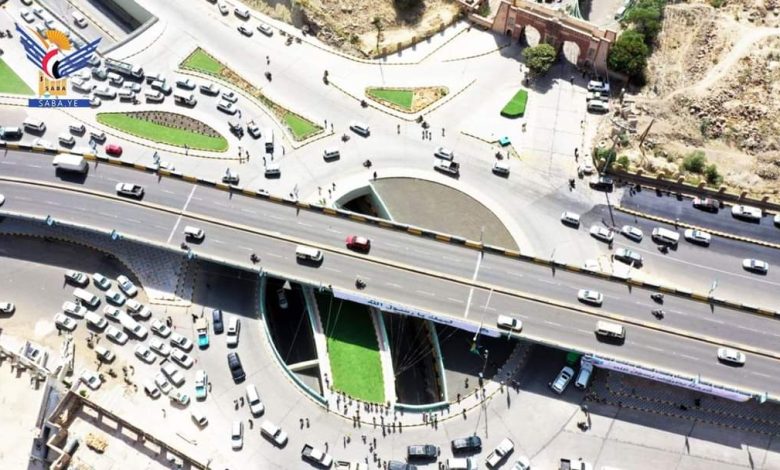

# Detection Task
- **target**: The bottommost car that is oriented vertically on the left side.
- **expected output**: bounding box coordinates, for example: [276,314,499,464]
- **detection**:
[229,418,245,450]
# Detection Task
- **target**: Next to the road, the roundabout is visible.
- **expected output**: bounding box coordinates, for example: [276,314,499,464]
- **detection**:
[261,167,549,428]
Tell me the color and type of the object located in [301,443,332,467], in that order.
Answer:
white truck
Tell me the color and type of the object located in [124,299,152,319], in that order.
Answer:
white vehicle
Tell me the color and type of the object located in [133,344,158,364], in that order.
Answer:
white car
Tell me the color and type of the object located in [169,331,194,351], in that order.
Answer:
white car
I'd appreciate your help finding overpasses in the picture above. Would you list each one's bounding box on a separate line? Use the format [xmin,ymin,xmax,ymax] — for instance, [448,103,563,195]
[0,146,780,408]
